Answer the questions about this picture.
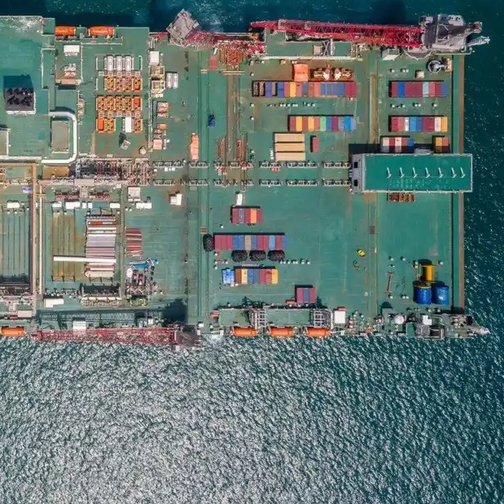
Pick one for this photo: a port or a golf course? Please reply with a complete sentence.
What you see here is a port.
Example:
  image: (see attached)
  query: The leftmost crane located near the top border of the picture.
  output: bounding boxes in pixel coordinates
[159,10,265,57]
